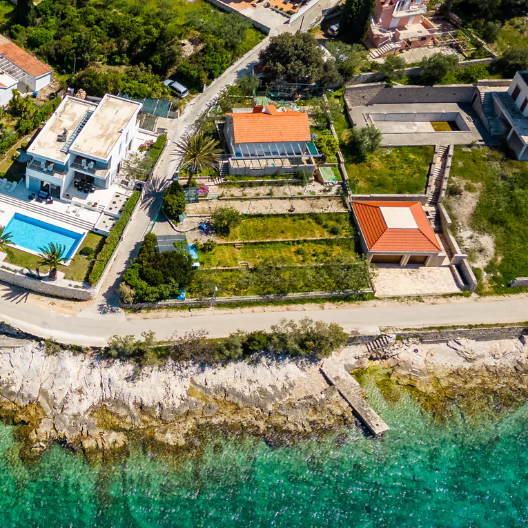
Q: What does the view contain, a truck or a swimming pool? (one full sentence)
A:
Of the two, only a swimming pool appears.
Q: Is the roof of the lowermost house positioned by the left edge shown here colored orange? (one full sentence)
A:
No, from above the roof of the lowermost house positioned by the left edge looks white.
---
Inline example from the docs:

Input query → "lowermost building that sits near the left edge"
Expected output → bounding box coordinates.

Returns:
[26,93,144,200]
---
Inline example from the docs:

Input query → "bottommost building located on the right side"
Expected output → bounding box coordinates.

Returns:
[347,200,442,267]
